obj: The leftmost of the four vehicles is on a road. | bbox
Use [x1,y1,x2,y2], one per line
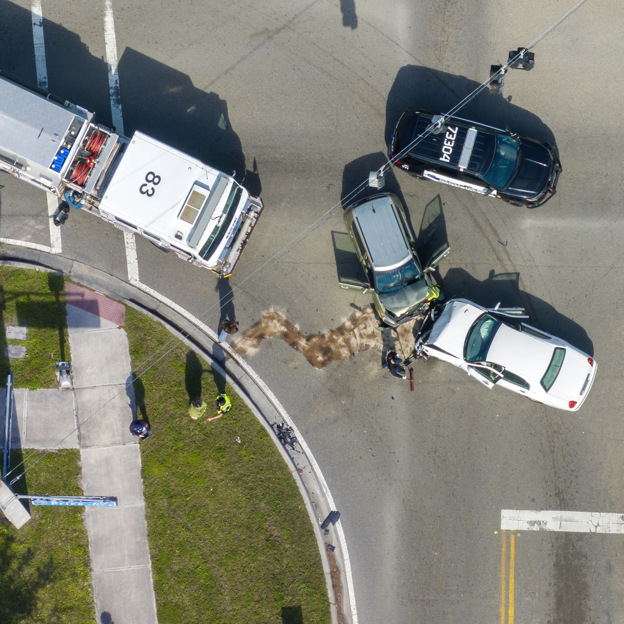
[0,68,265,279]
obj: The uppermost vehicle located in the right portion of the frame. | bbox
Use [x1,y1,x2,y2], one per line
[387,105,563,212]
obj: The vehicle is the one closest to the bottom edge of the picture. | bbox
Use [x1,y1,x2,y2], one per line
[418,295,601,410]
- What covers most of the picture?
paved ground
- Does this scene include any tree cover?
No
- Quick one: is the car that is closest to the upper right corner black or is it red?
black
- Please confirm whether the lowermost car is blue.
No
